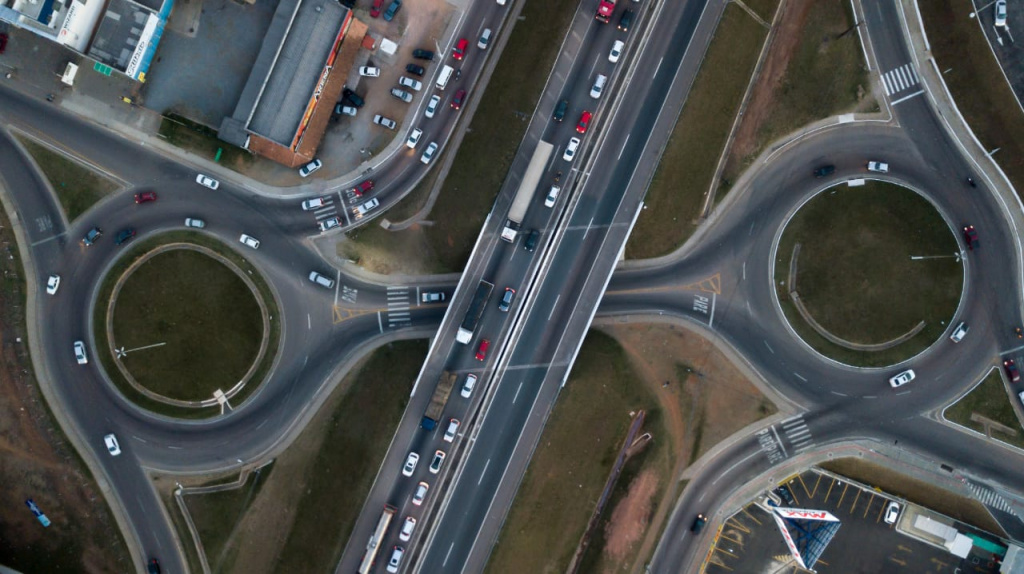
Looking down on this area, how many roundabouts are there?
2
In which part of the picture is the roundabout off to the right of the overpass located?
right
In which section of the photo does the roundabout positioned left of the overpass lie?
left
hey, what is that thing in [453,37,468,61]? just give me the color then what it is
red vehicle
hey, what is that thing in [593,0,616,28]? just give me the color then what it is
red truck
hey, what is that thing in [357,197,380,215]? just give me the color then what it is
white car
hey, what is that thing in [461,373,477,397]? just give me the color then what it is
white car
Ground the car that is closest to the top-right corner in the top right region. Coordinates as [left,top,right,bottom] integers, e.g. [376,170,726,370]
[994,1,1007,25]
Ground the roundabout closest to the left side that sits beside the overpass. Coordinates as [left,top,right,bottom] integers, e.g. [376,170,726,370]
[49,186,327,464]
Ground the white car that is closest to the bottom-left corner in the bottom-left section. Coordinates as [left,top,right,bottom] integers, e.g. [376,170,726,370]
[105,433,121,455]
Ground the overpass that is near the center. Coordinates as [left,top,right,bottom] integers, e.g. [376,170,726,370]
[409,202,645,397]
